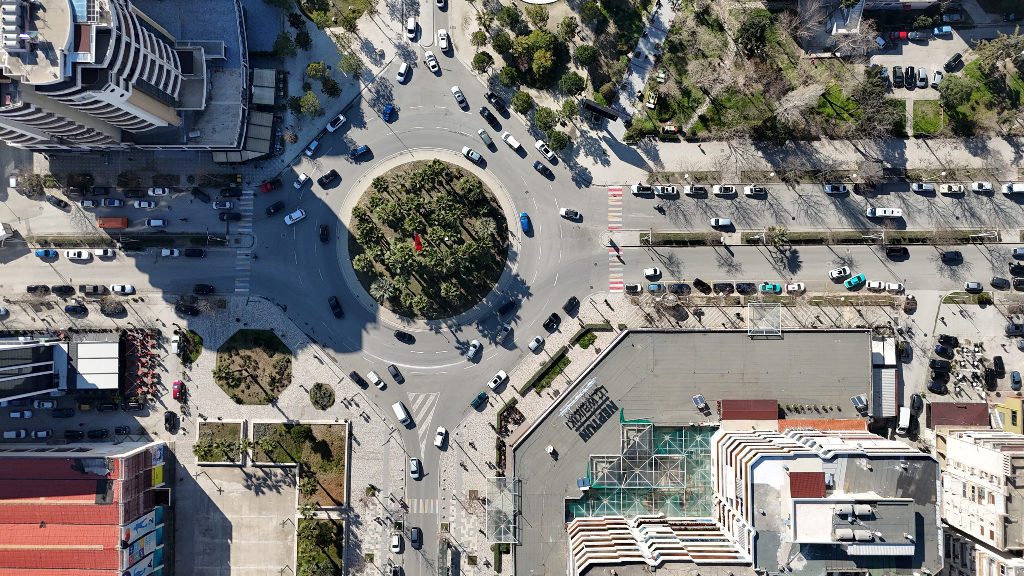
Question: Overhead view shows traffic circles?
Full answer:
Yes, there's a traffic circle here.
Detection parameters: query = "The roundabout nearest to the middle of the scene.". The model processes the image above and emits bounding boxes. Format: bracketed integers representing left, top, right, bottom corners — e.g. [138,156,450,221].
[292,103,565,377]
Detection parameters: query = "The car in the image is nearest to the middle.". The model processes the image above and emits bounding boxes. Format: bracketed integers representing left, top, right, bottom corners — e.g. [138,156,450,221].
[497,299,518,316]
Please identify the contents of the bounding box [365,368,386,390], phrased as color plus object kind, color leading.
white vehicle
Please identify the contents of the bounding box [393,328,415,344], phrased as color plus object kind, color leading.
black car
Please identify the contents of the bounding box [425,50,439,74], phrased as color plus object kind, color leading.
white car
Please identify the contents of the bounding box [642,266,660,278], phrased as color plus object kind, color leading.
white vehicle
